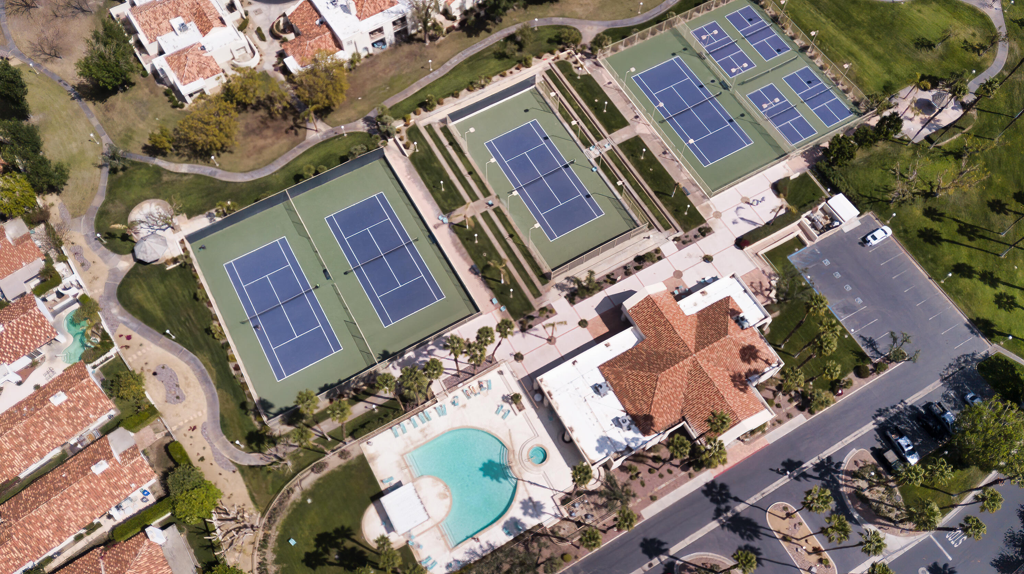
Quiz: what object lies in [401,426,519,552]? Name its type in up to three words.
swimming pool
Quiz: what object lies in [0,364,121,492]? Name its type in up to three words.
house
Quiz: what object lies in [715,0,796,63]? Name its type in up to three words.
sports court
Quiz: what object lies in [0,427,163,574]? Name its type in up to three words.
house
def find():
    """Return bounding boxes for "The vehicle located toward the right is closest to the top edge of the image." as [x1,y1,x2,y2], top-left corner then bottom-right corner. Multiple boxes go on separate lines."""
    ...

[866,227,894,244]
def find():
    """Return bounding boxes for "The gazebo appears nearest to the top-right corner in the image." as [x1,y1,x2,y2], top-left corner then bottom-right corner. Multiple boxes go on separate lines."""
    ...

[926,92,955,117]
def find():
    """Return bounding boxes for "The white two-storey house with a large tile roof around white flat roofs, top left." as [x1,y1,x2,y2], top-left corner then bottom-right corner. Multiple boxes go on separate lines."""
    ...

[110,0,261,107]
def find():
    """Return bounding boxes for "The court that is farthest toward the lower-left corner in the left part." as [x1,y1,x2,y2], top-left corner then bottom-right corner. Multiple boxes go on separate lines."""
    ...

[190,198,374,416]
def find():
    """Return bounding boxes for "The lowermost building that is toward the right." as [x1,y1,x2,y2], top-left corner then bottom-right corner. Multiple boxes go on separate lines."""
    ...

[535,262,785,475]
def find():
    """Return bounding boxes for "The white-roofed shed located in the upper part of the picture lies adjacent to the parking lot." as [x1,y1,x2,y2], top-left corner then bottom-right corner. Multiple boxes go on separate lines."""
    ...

[827,193,861,232]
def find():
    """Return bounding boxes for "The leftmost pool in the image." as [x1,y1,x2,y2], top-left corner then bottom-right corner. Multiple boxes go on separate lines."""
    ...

[59,307,91,365]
